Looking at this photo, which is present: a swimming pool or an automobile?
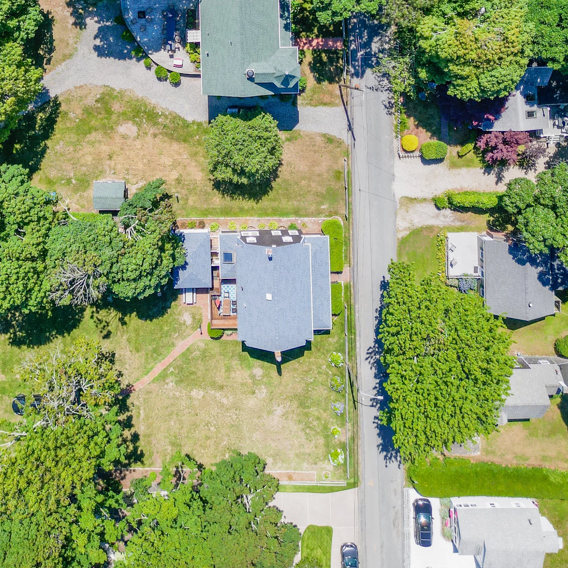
automobile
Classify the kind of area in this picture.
residential area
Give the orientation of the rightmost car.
vertically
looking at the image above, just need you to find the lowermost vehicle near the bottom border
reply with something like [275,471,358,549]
[338,538,362,568]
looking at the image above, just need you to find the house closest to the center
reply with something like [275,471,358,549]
[210,227,333,362]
